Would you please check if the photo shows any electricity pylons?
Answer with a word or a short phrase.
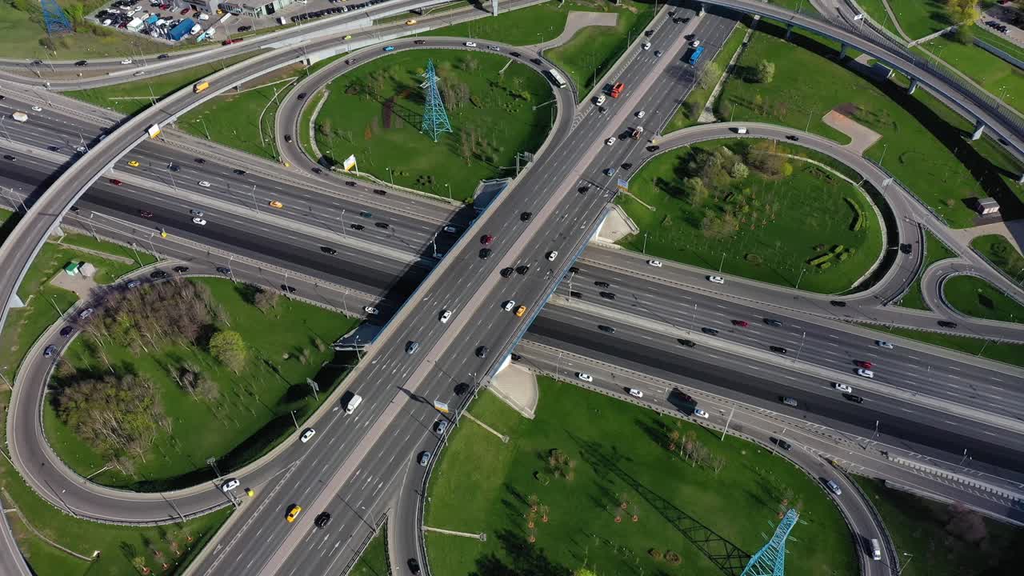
Yes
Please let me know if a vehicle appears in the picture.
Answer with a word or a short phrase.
Yes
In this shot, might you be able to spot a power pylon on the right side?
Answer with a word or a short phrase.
Yes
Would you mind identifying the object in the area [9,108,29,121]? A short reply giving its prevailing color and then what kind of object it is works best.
white vehicle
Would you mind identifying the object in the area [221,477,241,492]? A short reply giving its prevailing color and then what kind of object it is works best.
white car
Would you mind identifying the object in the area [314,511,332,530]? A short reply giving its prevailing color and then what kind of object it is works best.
black car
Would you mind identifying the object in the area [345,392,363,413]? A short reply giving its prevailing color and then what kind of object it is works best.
white vehicle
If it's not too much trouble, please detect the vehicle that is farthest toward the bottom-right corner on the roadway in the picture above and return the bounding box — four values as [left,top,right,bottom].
[869,539,885,562]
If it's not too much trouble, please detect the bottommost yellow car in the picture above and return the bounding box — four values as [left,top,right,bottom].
[285,504,303,524]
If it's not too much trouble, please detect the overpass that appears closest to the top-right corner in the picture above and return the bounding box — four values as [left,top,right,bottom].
[705,0,1024,151]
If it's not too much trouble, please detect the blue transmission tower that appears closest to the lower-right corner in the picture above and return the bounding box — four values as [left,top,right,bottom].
[736,508,800,576]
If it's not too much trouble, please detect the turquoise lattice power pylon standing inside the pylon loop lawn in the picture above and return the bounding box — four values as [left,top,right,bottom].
[419,61,454,142]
